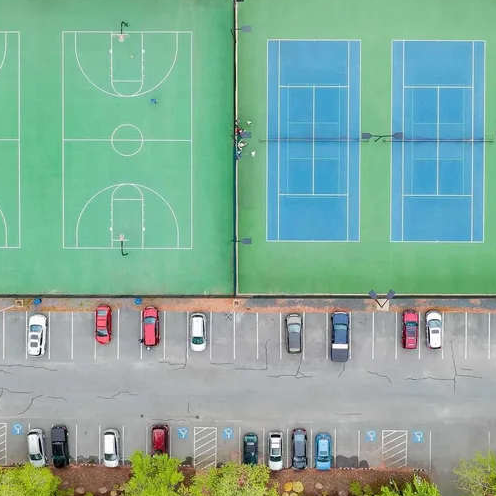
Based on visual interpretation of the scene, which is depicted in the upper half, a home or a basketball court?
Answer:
basketball court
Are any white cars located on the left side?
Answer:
Yes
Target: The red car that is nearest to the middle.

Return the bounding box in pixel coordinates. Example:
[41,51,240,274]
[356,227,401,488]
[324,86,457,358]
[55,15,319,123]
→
[142,306,160,347]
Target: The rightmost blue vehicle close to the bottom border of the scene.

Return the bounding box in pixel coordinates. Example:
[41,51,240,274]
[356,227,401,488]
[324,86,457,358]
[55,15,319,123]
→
[315,433,333,473]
